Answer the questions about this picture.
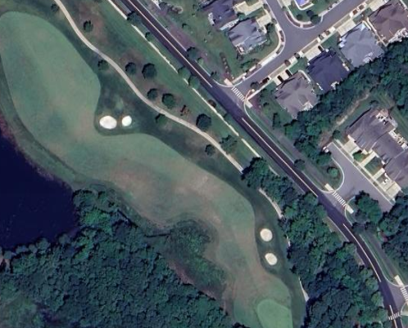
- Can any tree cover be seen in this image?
Yes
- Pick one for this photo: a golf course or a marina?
golf course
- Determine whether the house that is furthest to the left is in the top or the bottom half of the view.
top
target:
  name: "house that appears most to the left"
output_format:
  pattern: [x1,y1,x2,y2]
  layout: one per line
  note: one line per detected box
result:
[203,0,236,28]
